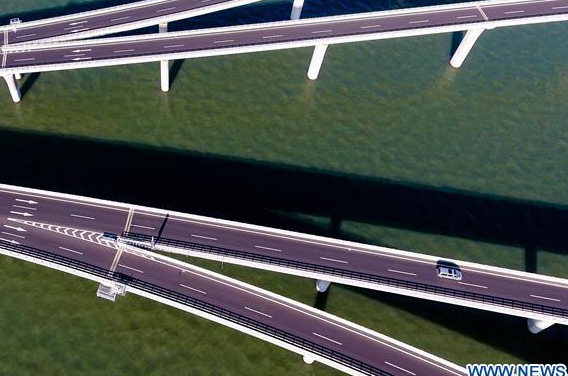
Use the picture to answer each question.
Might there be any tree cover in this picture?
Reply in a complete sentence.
No, tree cover can't be seen anywhere here.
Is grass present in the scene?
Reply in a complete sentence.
No, grass can't be seen anywhere here.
